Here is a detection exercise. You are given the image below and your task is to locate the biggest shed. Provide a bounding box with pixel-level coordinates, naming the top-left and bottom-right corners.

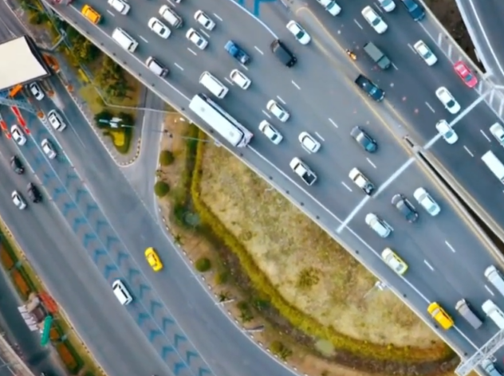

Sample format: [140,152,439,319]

[18,297,54,332]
